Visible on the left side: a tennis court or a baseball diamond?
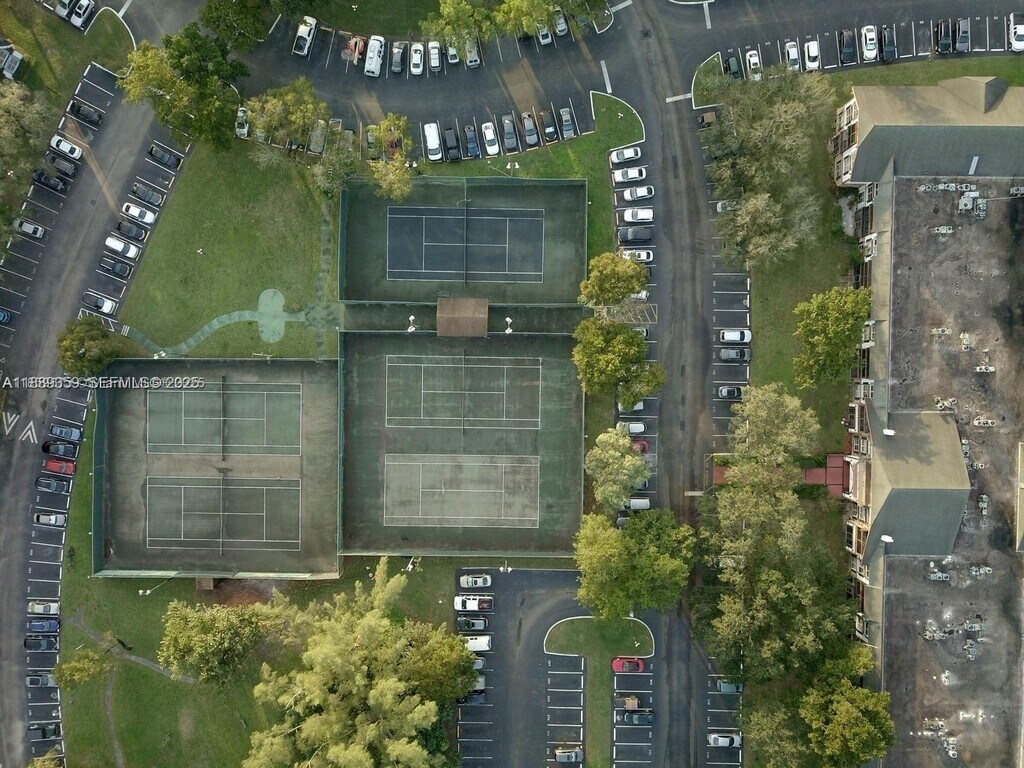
tennis court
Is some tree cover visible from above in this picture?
Yes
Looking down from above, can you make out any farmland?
No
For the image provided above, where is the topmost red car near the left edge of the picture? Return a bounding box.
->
[44,458,77,475]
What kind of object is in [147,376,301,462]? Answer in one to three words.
tennis court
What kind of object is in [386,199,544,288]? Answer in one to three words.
tennis court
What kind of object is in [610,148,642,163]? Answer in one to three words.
car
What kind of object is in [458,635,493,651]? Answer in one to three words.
vehicle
